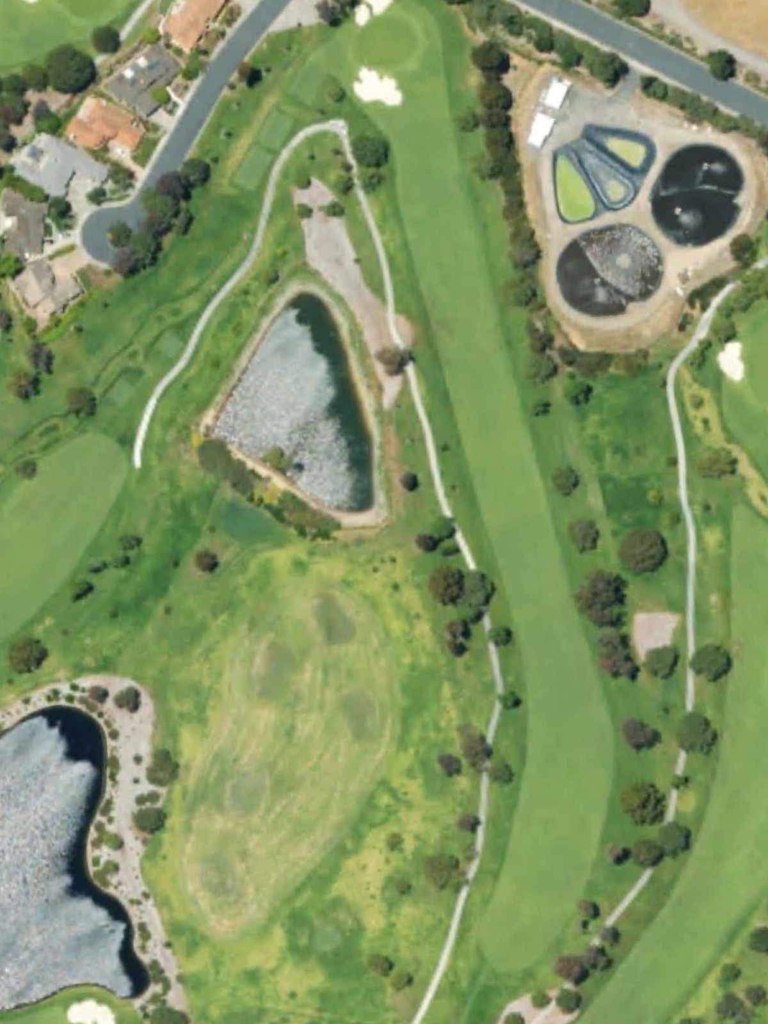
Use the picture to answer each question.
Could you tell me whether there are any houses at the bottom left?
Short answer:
No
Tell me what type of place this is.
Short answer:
golf course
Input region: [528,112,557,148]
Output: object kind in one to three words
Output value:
shed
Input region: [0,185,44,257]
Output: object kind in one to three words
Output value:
house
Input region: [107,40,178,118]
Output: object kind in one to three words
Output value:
house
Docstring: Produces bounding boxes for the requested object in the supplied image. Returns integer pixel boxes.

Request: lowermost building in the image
[6,255,88,320]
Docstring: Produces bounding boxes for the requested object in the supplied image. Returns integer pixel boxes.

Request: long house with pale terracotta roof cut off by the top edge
[163,0,223,51]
